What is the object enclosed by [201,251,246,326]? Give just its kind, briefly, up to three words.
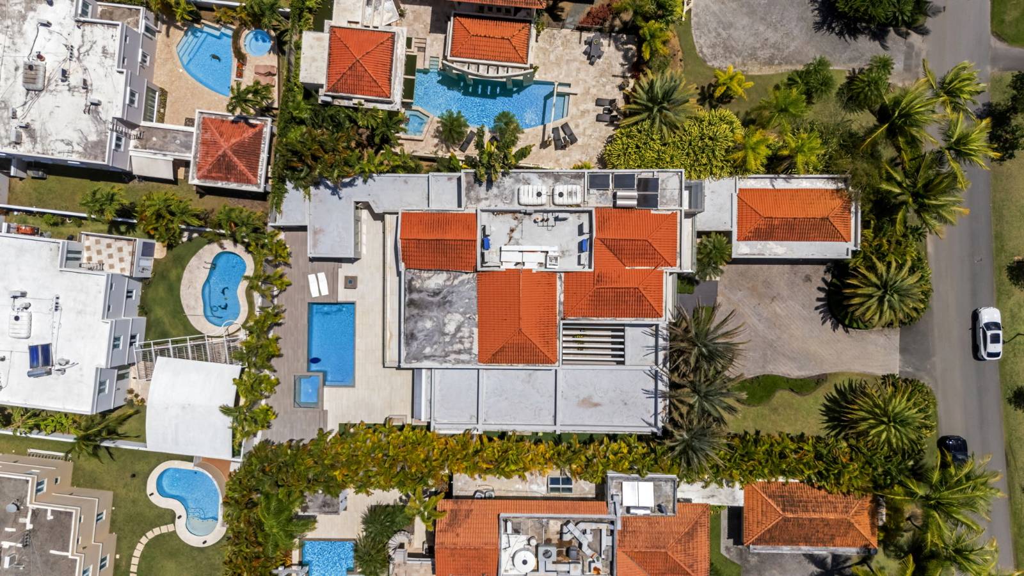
swimming pool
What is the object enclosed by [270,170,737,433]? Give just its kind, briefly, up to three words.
house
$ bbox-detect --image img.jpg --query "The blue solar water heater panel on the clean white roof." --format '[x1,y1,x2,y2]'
[29,343,56,369]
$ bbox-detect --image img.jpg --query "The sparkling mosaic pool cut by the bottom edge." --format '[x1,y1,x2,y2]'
[298,538,357,576]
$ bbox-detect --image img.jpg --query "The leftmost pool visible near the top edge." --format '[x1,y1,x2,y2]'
[174,23,235,99]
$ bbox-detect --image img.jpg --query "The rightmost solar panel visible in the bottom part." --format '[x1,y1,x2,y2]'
[623,481,654,506]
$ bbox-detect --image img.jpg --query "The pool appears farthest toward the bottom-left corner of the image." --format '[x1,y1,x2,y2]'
[156,467,219,537]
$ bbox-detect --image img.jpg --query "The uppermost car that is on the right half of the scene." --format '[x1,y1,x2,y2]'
[974,306,1004,360]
